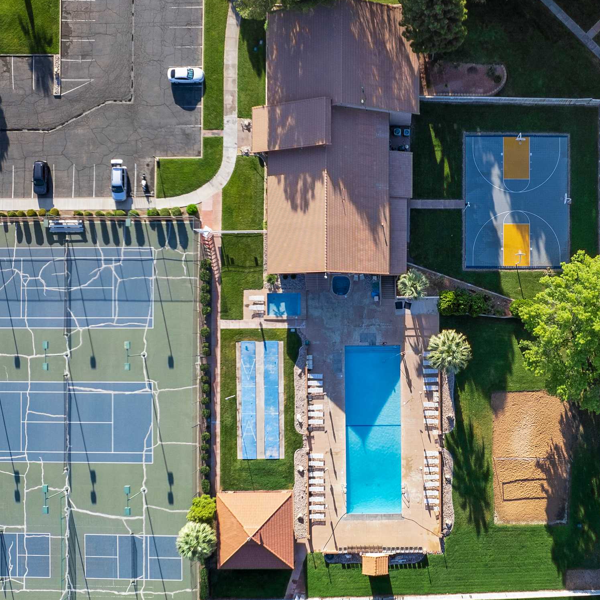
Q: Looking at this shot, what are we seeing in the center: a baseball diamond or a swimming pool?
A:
swimming pool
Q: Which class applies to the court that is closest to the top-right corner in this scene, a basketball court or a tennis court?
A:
basketball court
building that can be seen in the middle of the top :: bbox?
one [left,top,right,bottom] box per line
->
[252,0,419,277]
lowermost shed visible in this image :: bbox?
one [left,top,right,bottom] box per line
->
[362,551,399,576]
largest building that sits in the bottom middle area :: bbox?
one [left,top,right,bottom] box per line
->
[215,490,295,570]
